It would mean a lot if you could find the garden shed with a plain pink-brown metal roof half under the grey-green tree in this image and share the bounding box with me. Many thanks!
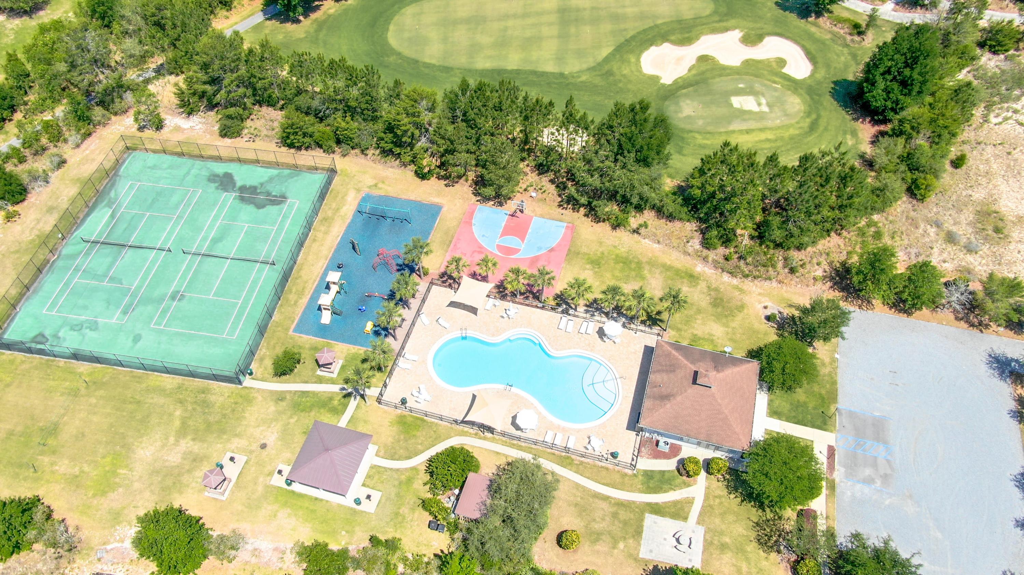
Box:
[453,475,495,530]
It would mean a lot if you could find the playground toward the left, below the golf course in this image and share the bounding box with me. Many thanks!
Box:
[290,192,444,348]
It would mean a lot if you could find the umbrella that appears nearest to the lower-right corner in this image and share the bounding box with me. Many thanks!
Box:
[603,321,623,338]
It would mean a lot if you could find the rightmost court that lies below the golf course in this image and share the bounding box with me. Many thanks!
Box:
[440,204,575,295]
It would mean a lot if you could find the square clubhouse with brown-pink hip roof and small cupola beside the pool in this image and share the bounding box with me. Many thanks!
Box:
[639,338,761,468]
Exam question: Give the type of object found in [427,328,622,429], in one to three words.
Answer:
swimming pool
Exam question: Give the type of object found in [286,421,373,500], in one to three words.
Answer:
building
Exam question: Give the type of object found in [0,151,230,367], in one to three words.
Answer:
tennis court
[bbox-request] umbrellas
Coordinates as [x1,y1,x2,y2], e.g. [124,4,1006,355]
[515,410,539,431]
[603,321,623,338]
